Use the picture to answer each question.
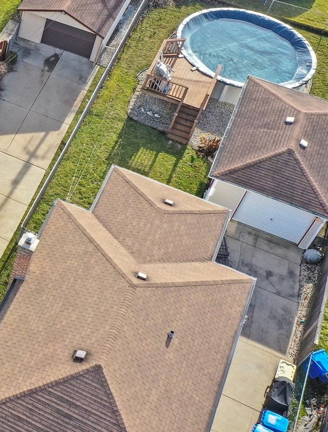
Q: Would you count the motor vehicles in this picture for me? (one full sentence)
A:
There are no motor vehicles in the image.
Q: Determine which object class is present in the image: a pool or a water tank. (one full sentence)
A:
Of the two, only a pool appears.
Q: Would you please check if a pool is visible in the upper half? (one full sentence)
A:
Yes, you'll find a pool in the upper half.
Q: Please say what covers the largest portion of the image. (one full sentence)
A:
For the most part, this view shows buildings.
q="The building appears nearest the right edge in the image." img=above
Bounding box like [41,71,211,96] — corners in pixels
[203,74,328,248]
